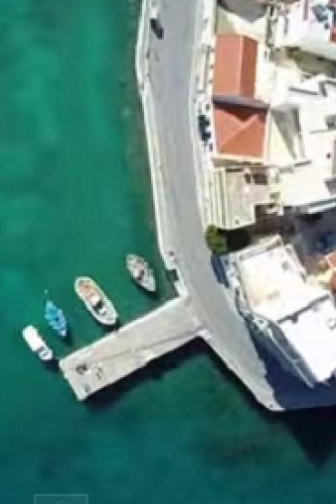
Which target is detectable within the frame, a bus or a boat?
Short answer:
boat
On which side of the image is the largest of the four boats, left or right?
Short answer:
left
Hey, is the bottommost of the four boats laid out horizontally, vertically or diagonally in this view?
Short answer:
diagonally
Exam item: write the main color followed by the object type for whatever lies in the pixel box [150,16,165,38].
black car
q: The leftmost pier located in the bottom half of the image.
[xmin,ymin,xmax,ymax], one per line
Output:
[58,293,211,400]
